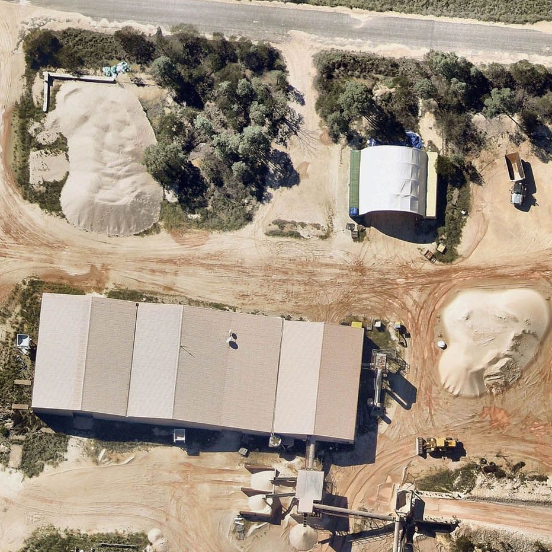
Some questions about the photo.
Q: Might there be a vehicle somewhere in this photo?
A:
Yes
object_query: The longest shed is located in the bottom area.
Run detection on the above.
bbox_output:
[31,292,368,446]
